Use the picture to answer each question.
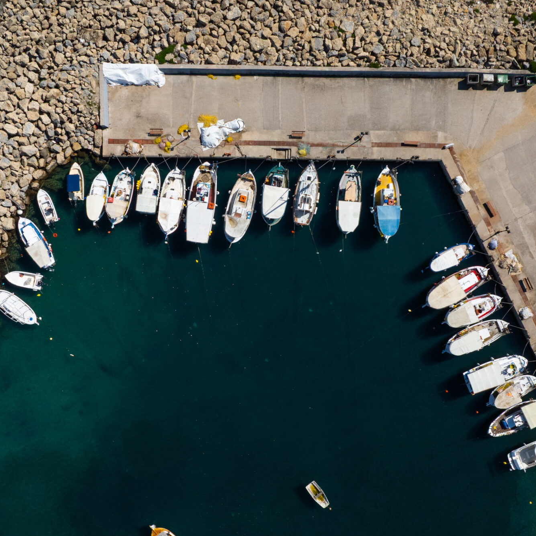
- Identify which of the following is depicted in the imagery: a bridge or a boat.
boat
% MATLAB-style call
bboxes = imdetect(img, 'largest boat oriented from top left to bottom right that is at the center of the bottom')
[306,482,328,508]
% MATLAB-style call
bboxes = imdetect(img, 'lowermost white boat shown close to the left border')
[0,289,41,325]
